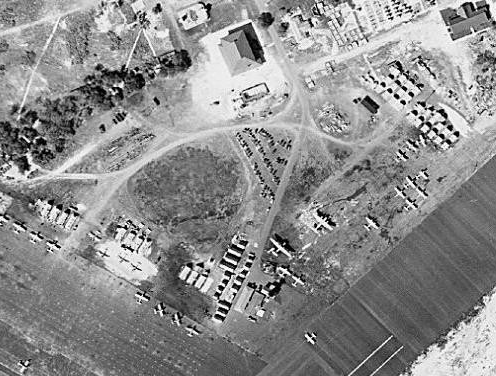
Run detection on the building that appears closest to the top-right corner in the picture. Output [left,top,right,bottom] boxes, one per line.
[444,0,491,41]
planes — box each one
[417,137,427,146]
[306,333,317,345]
[406,200,417,211]
[394,188,406,199]
[396,152,407,163]
[405,177,416,188]
[14,224,26,235]
[269,239,290,260]
[20,362,28,371]
[136,295,148,305]
[313,215,332,233]
[406,141,417,153]
[153,305,164,317]
[98,252,108,262]
[364,219,376,231]
[186,328,198,338]
[170,314,181,327]
[30,233,42,244]
[291,276,303,289]
[47,243,59,253]
[118,257,128,266]
[277,267,290,279]
[416,188,427,199]
[418,171,428,180]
